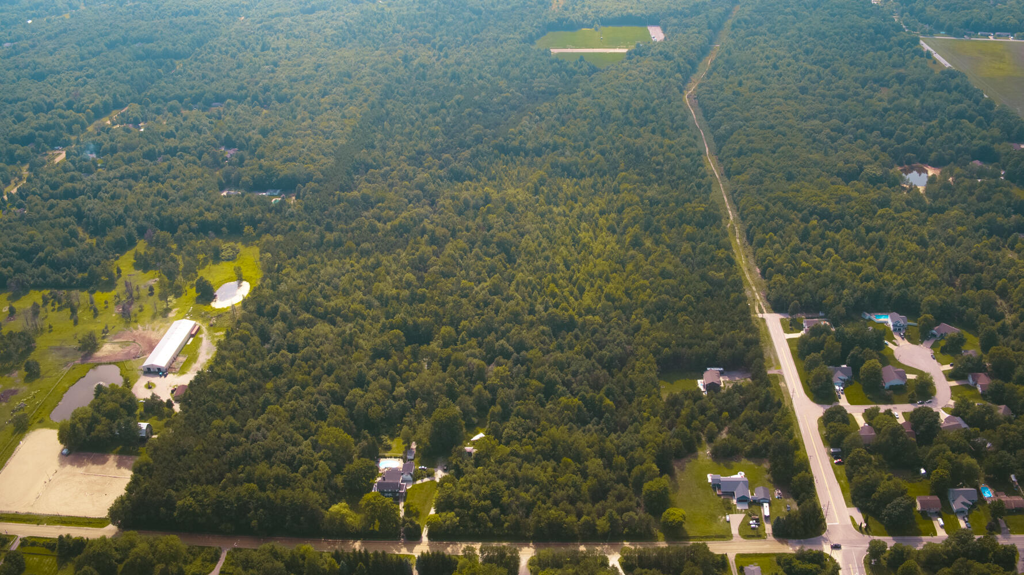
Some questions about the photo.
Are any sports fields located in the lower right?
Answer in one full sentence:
No, I see no sports field in the lower right.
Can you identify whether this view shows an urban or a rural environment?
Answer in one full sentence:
From above, the setting appears rural.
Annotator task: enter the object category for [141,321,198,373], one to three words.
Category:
barn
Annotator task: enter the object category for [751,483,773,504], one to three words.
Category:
building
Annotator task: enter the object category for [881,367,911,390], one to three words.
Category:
house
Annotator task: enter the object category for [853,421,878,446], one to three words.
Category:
house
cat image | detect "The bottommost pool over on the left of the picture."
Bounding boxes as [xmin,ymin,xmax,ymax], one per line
[376,458,402,471]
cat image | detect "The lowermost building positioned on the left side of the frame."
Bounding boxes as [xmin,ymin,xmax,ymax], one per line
[372,464,416,502]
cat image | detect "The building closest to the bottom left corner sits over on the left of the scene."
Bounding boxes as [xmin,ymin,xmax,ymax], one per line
[129,423,157,443]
